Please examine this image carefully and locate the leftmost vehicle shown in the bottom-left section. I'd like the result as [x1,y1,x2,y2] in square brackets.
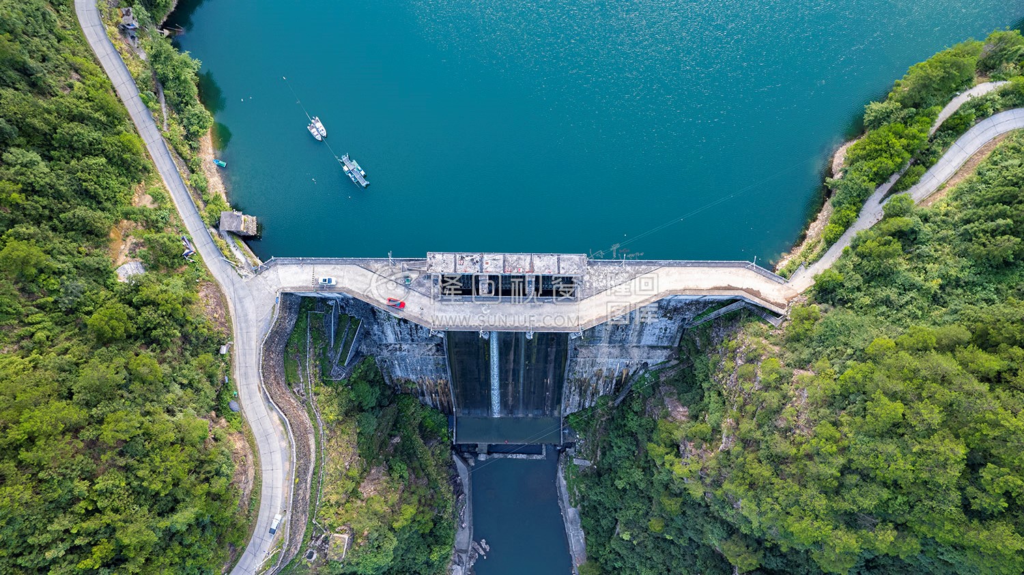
[266,514,282,536]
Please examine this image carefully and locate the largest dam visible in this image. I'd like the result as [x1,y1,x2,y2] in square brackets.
[251,258,789,447]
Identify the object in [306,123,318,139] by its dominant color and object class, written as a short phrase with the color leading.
white boat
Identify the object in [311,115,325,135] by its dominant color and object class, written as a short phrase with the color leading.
white boat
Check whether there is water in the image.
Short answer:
Yes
